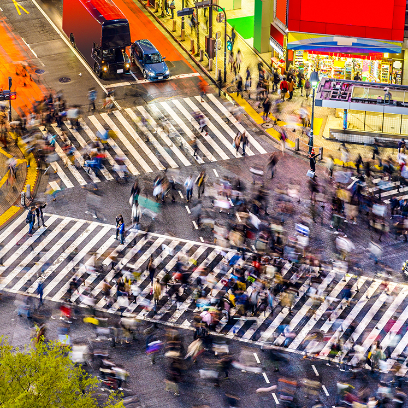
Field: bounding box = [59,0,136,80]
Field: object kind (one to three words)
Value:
bus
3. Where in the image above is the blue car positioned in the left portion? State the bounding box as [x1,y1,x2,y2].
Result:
[129,41,170,81]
